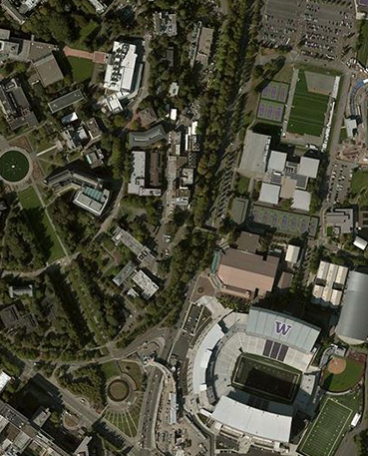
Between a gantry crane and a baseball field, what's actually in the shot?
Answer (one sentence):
I can see a baseball field in this picture.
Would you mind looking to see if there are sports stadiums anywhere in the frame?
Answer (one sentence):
Yes, the image includes a sports stadium.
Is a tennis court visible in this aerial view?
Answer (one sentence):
Yes, you can see a tennis court in this photo.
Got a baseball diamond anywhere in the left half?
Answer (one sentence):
No, no baseball diamond appears in the left half.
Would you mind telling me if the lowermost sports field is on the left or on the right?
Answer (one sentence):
It is on the right.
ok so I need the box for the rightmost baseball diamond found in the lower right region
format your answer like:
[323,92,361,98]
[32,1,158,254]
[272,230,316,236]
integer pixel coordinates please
[329,353,367,393]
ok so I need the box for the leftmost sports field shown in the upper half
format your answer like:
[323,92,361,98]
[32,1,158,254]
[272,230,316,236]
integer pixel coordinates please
[286,69,337,136]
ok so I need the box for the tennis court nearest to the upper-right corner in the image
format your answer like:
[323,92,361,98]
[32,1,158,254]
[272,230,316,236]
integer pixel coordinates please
[261,81,289,103]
